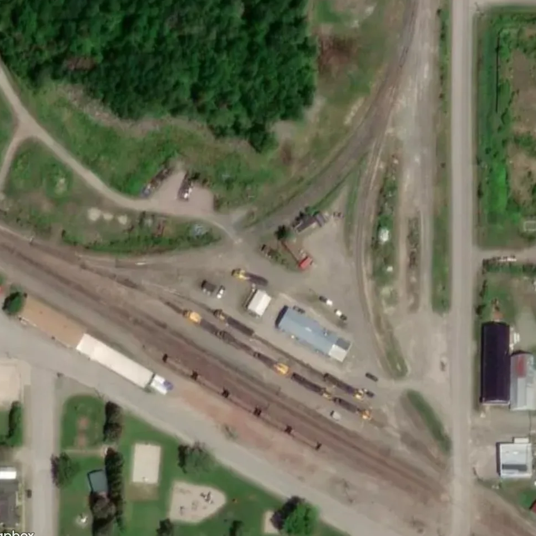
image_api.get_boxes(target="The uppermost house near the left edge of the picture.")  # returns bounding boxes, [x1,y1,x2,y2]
[18,299,85,347]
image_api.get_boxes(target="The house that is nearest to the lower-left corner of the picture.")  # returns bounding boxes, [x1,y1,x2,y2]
[0,481,19,526]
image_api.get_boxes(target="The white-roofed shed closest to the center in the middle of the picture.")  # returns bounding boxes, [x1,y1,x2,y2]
[248,289,272,316]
